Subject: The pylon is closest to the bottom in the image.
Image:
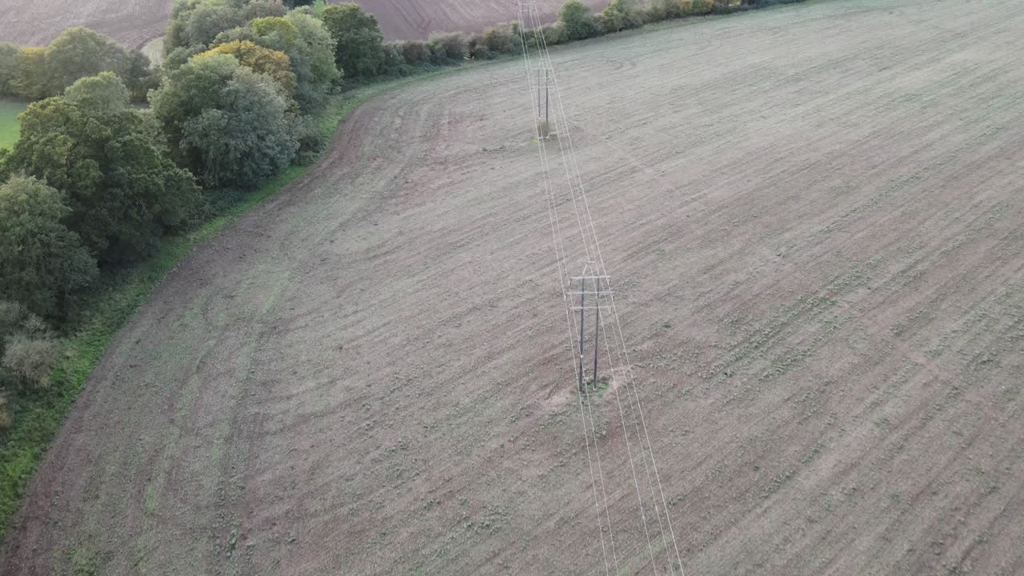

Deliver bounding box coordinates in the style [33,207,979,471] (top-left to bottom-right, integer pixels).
[566,261,615,391]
